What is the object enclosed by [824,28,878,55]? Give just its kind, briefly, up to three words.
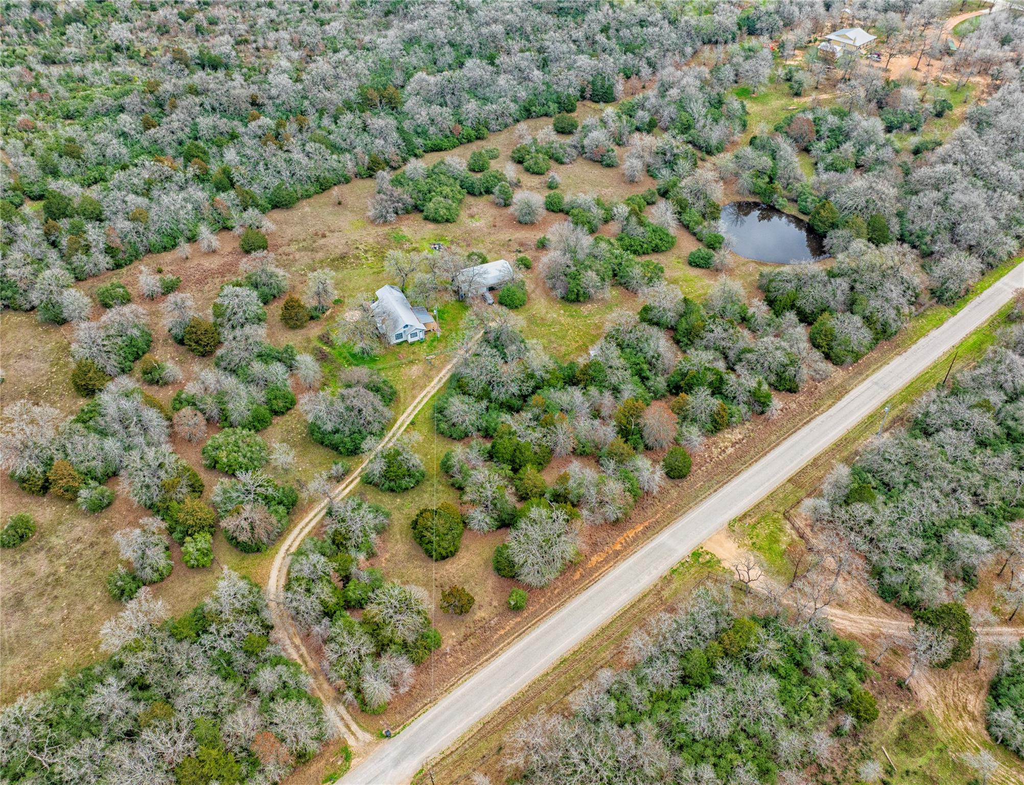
house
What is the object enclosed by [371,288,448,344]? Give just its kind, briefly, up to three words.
house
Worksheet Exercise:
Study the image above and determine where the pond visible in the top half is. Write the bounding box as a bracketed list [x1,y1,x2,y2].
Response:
[716,201,843,268]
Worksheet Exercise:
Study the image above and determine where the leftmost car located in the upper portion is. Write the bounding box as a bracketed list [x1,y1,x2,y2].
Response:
[482,291,496,303]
